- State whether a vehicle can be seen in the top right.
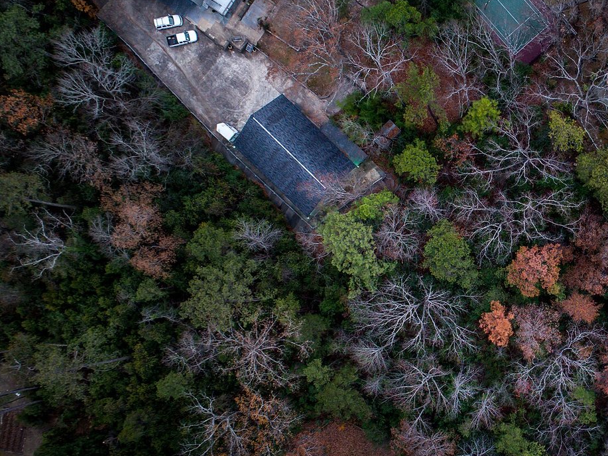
No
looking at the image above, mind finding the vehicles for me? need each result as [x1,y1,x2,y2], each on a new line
[167,29,200,47]
[213,121,239,144]
[154,13,184,30]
